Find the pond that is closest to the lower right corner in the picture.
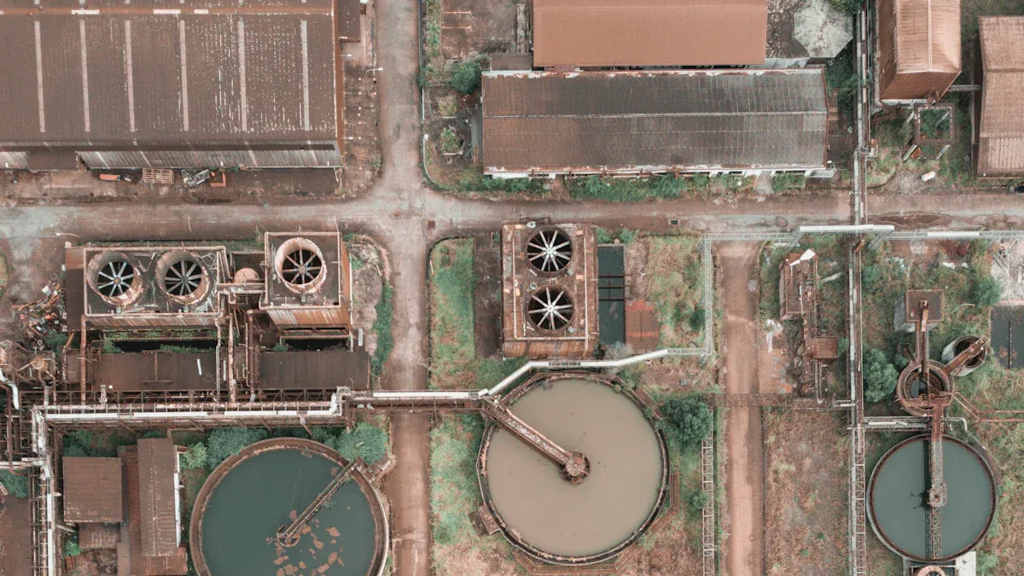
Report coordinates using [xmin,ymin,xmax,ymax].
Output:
[988,298,1024,370]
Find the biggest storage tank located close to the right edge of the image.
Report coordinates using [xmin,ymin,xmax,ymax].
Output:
[865,425,995,560]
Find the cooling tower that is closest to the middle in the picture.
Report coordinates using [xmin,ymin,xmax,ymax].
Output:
[501,218,600,358]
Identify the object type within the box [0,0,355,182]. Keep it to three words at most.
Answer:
warehouse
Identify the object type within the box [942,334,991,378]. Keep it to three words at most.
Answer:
storage tank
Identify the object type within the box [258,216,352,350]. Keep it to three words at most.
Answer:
cooling tower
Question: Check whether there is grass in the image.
Yes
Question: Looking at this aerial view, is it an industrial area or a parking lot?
industrial area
